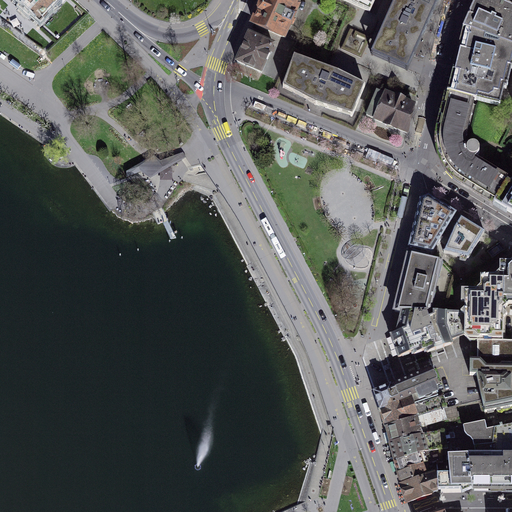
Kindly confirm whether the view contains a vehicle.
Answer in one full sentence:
Yes, this view includes a vehicle.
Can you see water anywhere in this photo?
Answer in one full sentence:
Yes, water can be seen from above here.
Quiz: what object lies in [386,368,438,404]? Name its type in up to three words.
house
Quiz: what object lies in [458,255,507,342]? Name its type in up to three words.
building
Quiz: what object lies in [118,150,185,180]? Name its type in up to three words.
building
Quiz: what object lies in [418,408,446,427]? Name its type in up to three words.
shed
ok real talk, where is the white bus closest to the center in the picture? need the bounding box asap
[258,216,286,260]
